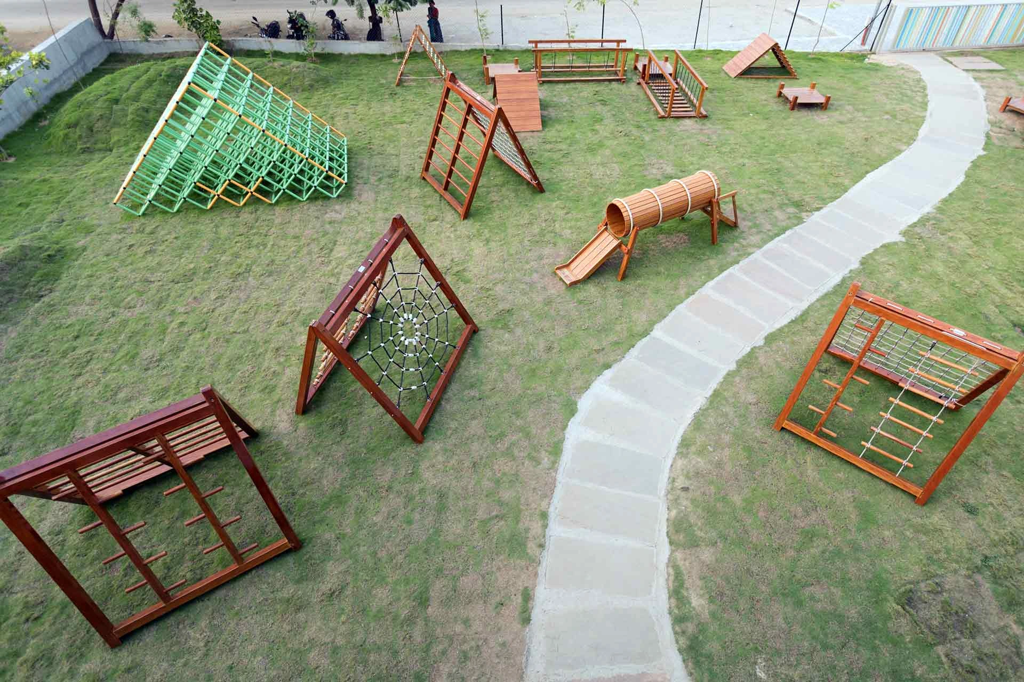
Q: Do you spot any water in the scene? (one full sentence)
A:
No, the scene doesn't show any water.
